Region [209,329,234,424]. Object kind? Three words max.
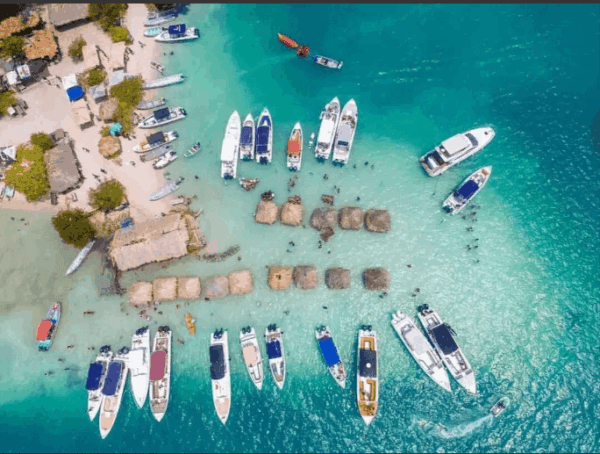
boat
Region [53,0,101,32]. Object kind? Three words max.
house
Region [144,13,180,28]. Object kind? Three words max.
boat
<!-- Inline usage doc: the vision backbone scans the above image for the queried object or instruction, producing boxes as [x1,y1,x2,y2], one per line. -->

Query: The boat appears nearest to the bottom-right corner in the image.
[489,397,508,417]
